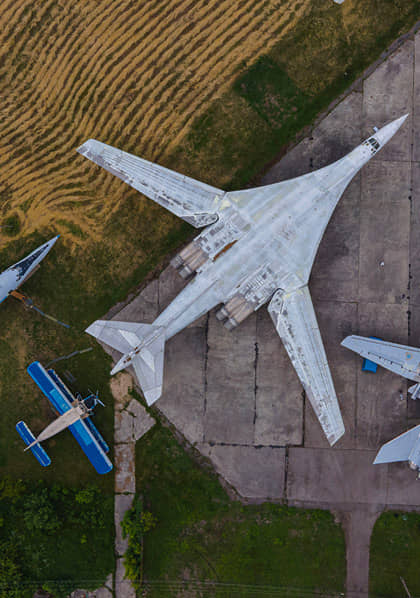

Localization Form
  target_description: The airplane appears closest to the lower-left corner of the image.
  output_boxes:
[16,363,112,474]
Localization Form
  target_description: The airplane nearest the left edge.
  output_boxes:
[0,236,60,304]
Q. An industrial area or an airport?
airport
